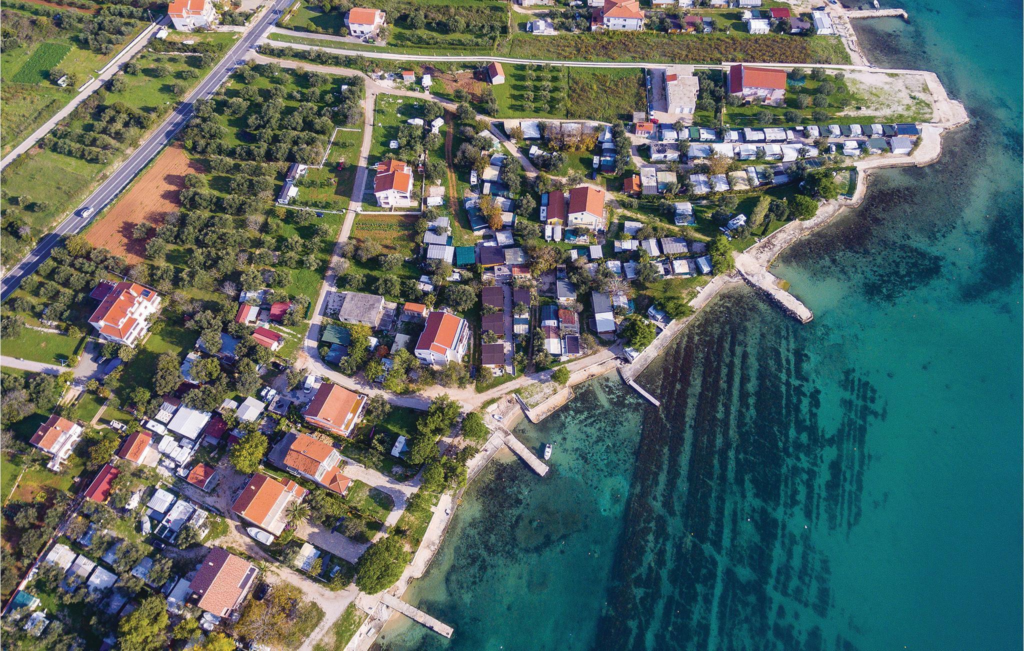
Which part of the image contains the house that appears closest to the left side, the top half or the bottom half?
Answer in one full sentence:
The house that appears closest to the left side sits in the bottom half of the picture.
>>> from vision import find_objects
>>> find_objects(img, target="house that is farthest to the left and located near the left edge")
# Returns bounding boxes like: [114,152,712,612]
[29,415,93,470]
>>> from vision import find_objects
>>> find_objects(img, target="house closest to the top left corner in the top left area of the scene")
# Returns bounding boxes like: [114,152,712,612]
[169,0,223,29]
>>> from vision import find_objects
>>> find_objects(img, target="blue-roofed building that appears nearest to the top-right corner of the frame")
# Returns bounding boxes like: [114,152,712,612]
[889,123,919,142]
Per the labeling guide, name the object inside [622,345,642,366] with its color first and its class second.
white vehicle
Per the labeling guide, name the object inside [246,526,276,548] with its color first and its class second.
white boat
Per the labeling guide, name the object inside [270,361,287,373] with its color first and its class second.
black vehicle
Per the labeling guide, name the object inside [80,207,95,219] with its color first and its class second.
white vehicle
